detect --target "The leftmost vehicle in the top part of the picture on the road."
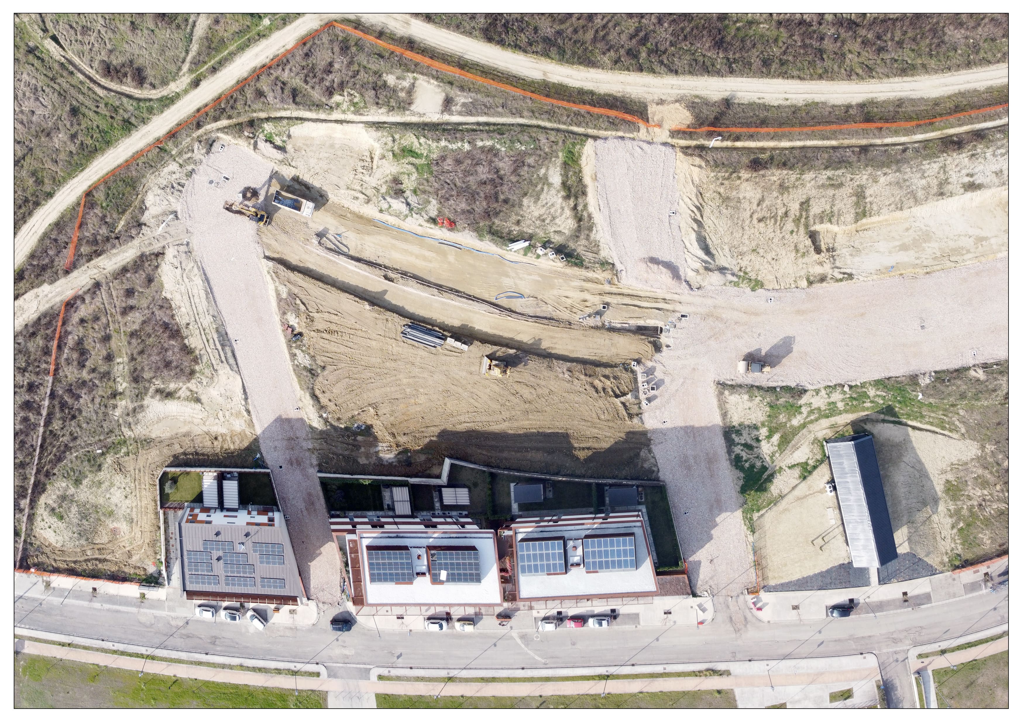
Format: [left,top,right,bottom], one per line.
[227,201,270,229]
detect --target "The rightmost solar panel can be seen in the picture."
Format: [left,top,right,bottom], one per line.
[584,538,635,570]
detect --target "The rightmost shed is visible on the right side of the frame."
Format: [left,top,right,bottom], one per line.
[824,431,897,567]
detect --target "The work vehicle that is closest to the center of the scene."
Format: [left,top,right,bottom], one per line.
[484,361,509,380]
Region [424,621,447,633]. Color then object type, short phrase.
white vehicle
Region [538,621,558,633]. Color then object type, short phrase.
white vehicle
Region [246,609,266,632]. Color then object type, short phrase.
white car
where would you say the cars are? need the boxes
[588,617,611,628]
[454,622,474,633]
[538,621,558,633]
[246,609,266,632]
[195,609,216,621]
[567,619,584,630]
[329,622,352,633]
[828,606,851,618]
[219,612,242,623]
[424,621,447,633]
